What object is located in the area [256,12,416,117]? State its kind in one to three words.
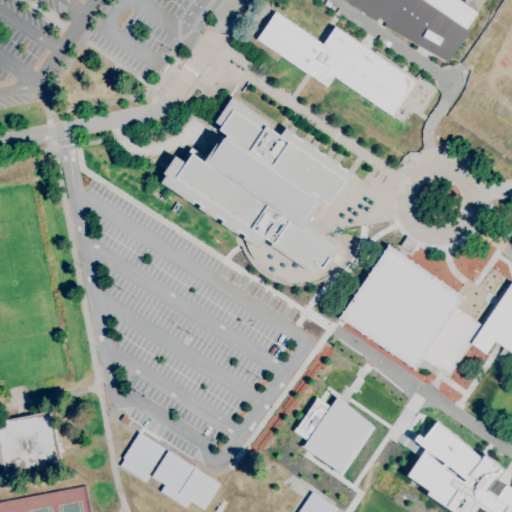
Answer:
building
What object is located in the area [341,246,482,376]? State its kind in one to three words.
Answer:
building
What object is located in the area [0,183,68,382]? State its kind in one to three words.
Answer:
sports field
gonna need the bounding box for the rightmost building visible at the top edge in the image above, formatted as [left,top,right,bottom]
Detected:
[354,0,479,62]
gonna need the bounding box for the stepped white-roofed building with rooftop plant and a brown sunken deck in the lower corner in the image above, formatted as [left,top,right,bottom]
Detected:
[398,414,512,512]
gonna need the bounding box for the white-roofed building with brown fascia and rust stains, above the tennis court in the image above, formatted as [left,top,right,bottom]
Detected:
[0,414,64,474]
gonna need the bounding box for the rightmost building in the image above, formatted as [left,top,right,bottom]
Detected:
[470,280,512,356]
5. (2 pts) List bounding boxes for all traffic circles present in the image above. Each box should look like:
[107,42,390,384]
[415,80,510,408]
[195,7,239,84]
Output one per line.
[392,150,512,251]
